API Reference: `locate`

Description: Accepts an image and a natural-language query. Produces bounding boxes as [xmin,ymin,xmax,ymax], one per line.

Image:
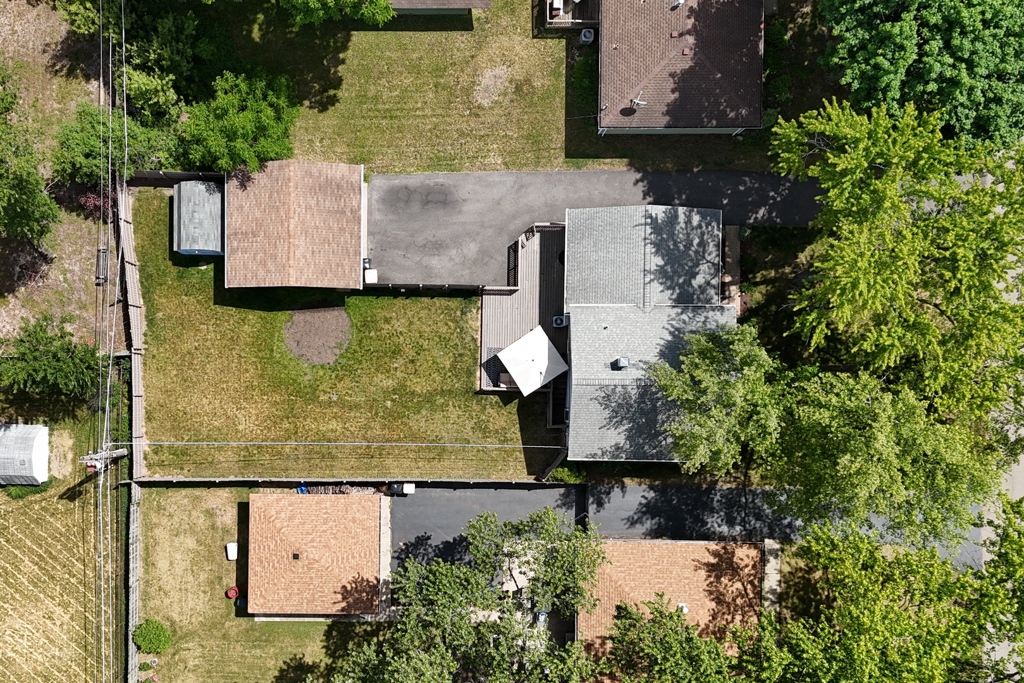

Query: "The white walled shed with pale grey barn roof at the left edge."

[0,425,49,484]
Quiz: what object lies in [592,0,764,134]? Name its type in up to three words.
house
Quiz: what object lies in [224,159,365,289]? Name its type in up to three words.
building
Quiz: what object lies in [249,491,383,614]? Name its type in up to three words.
building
